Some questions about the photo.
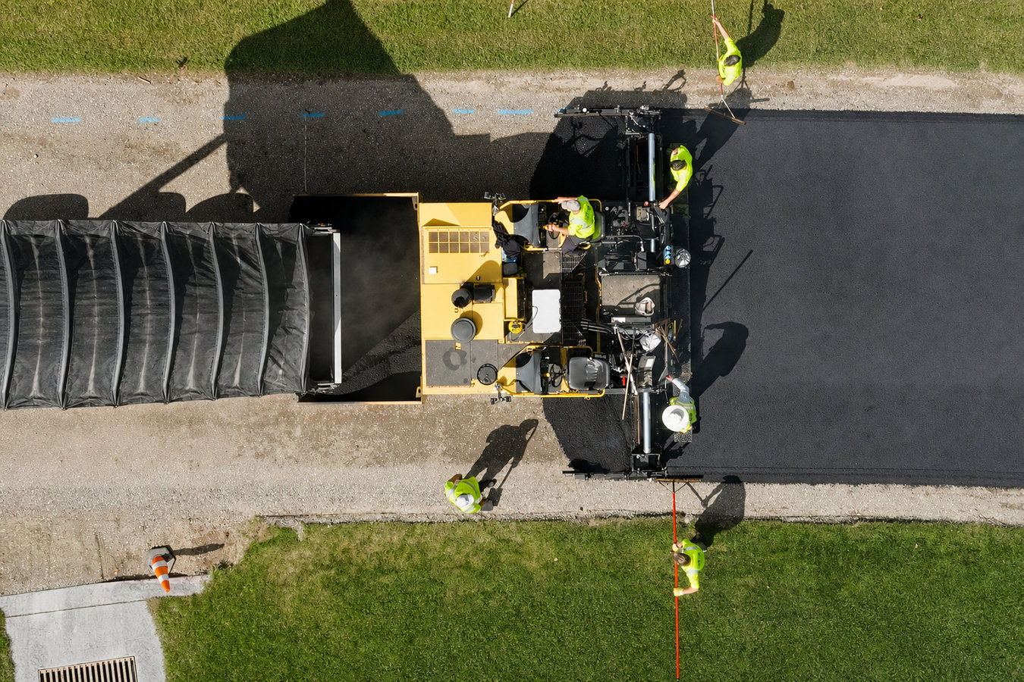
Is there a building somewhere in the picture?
No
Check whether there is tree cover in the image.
No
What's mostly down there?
paved ground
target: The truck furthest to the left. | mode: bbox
[0,220,349,414]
